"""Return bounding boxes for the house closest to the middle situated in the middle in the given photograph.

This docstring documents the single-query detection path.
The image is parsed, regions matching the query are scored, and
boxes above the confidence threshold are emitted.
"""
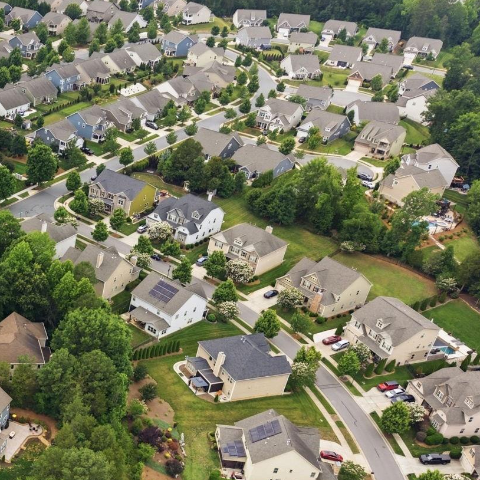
[196,222,283,289]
